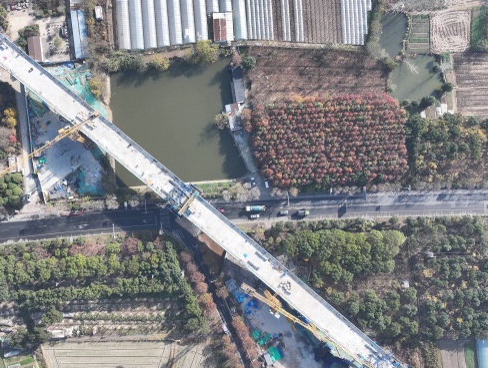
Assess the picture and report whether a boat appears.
No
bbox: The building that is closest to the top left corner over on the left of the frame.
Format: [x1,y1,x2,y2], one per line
[26,34,45,62]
